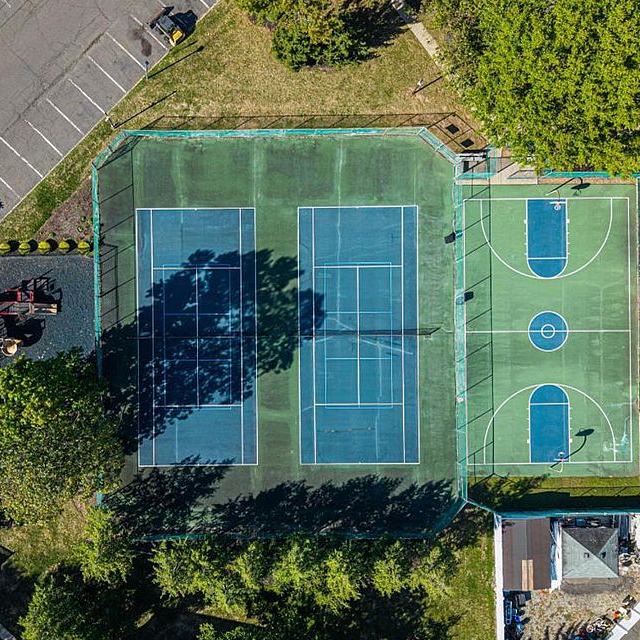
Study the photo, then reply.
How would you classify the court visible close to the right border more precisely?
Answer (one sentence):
The court visible close to the right border appears to be a basketball court.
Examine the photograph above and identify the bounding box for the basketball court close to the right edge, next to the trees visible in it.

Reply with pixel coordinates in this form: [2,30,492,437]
[457,182,639,478]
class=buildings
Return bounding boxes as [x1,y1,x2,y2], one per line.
[552,524,620,588]
[495,512,549,592]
